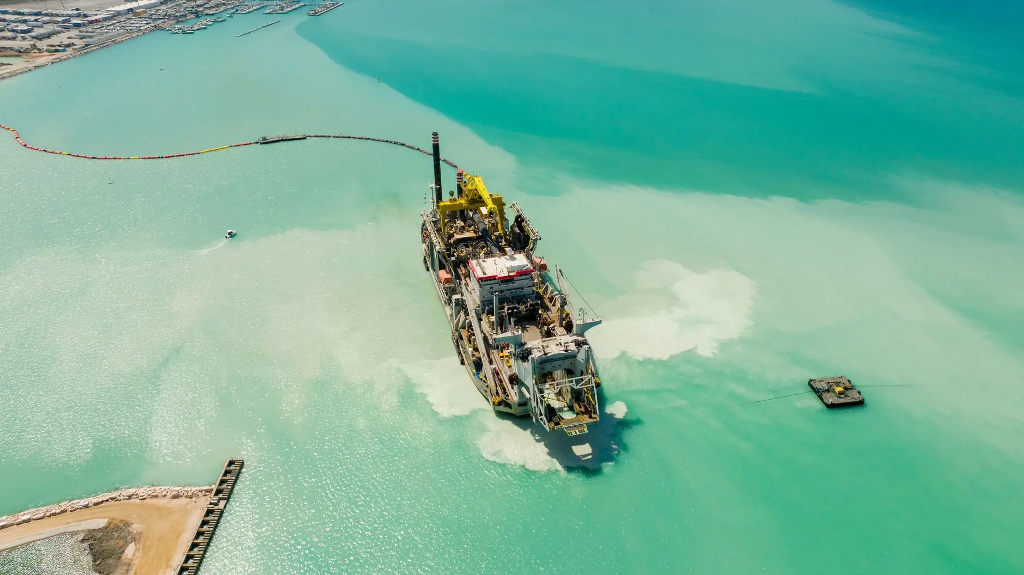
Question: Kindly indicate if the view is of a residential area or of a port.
port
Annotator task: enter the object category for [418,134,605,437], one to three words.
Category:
ship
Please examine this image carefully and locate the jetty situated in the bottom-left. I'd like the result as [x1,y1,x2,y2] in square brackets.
[181,458,249,575]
